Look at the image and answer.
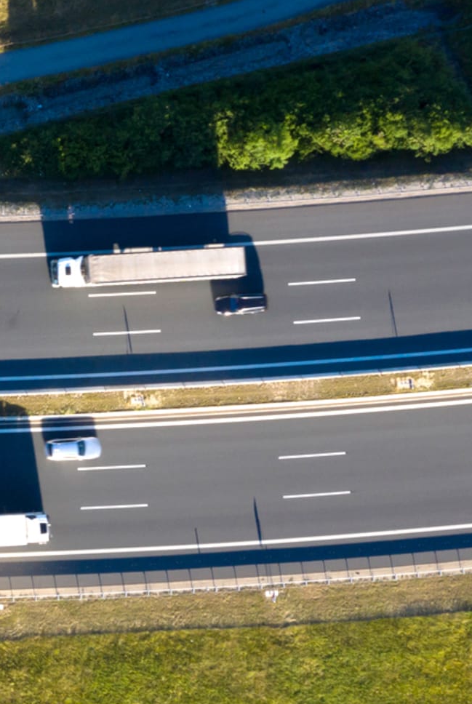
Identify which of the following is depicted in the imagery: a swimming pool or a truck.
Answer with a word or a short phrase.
truck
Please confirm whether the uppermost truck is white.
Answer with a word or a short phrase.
Yes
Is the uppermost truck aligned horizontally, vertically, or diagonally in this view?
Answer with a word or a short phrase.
horizontally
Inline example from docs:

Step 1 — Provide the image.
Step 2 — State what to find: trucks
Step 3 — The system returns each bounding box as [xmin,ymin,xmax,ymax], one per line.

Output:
[48,248,247,293]
[0,509,50,546]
